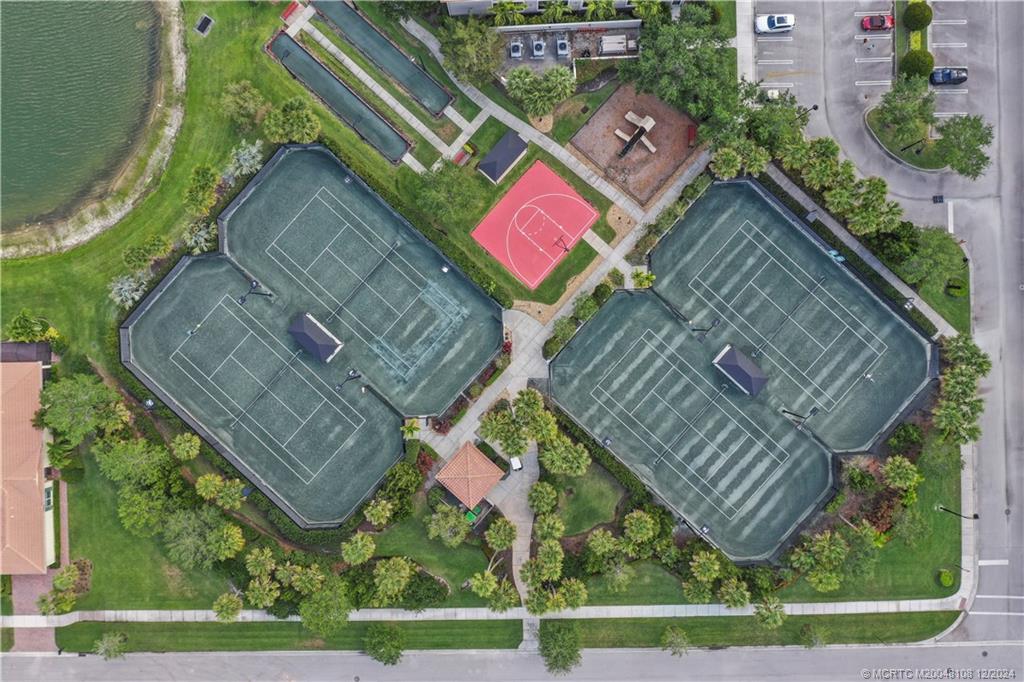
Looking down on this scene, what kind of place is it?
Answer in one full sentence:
What you see here is a sports ground.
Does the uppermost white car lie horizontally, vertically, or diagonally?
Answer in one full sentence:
The uppermost white car is laid out horizontally.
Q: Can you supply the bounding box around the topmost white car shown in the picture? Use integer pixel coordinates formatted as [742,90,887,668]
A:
[756,12,796,33]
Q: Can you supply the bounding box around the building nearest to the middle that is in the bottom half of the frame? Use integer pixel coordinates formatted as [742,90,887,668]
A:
[435,441,505,511]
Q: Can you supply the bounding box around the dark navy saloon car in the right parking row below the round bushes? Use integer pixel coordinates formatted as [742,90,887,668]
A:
[930,66,971,85]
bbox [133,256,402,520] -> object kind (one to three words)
tennis court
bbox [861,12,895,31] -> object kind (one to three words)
car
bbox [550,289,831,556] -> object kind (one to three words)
tennis court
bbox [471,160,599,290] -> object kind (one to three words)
basketball court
